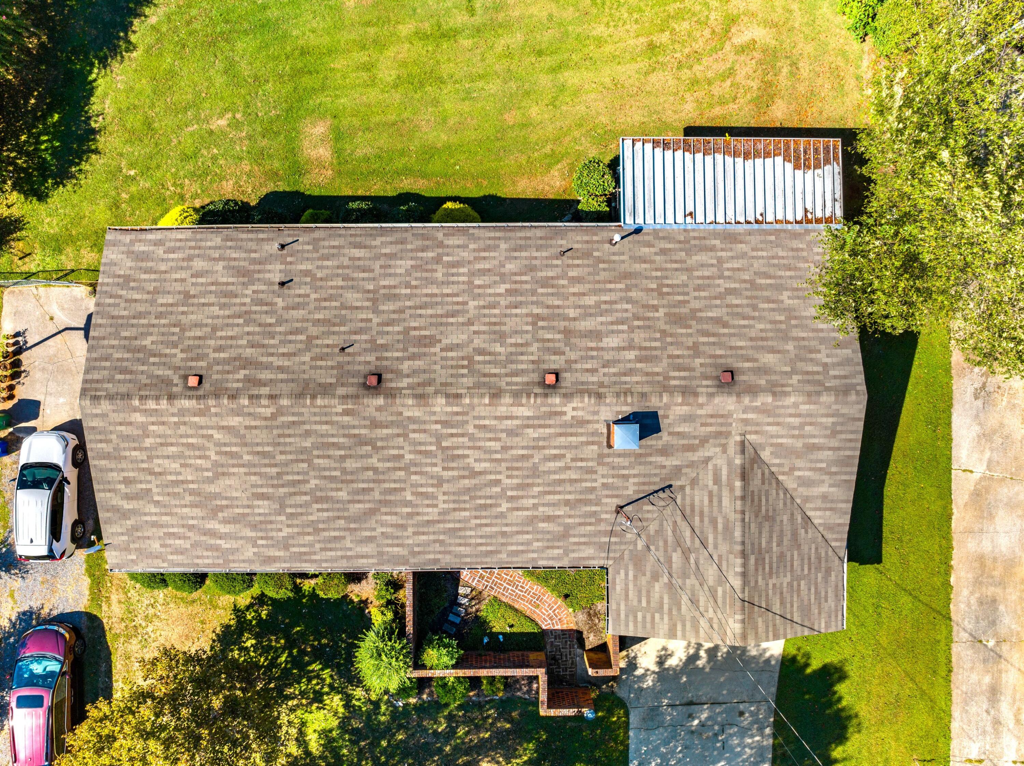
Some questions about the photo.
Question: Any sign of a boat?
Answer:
No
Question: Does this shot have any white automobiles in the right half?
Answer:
No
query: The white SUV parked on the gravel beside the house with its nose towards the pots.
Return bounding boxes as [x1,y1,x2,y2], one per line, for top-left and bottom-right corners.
[5,434,85,565]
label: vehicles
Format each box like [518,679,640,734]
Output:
[8,626,90,766]
[5,434,85,565]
